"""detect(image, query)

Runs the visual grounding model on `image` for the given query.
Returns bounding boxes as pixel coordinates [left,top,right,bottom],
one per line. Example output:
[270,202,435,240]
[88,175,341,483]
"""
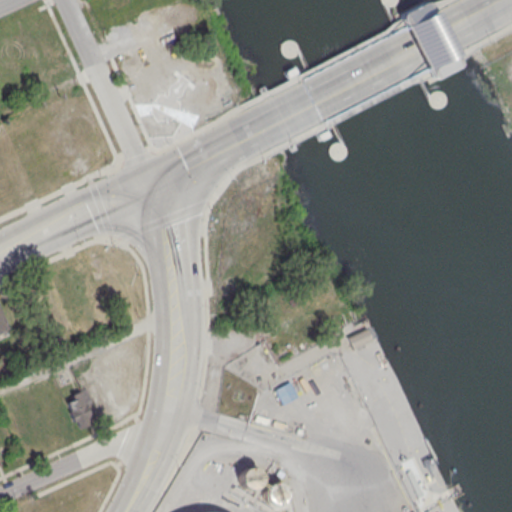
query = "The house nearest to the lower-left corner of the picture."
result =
[65,388,96,426]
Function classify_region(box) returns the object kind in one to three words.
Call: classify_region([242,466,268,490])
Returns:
silo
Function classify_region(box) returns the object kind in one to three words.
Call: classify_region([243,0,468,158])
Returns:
bridge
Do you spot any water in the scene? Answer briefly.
Yes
